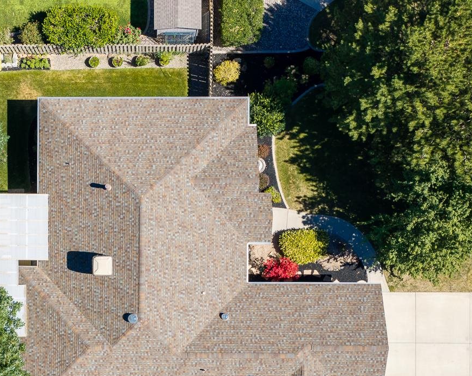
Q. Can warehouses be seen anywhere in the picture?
No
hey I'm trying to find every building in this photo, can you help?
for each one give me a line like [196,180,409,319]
[22,96,390,376]
[153,0,201,39]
